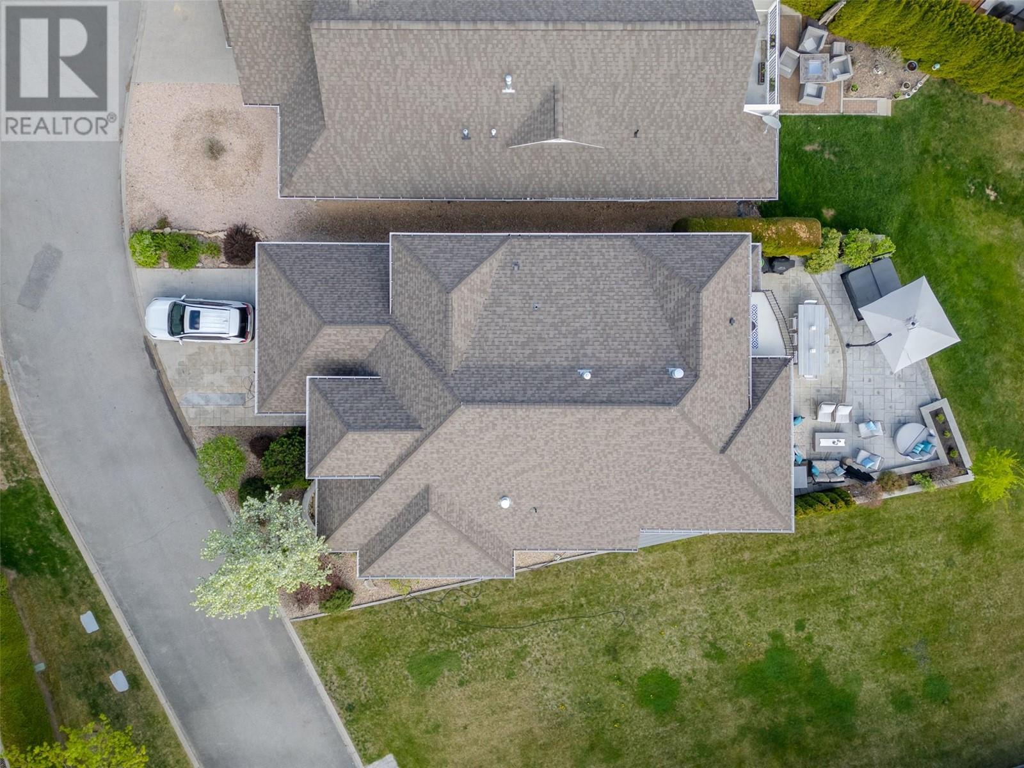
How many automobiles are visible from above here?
1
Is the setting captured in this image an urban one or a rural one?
urban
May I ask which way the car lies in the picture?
from side to side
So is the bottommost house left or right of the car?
on its right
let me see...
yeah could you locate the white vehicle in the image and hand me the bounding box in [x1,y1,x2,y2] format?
[144,285,256,342]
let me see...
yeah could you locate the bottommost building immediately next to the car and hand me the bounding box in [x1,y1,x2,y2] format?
[256,234,798,578]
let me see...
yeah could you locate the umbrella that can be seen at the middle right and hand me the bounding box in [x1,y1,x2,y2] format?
[846,277,960,373]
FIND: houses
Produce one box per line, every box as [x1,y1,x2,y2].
[256,234,798,578]
[218,0,789,199]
